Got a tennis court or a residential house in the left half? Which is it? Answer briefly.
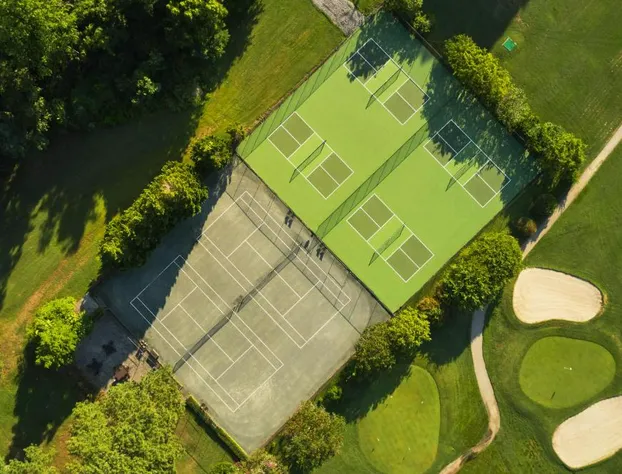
tennis court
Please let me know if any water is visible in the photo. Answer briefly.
No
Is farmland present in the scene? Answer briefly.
No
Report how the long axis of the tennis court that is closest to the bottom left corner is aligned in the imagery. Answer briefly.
at an angle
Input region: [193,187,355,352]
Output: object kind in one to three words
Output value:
tennis court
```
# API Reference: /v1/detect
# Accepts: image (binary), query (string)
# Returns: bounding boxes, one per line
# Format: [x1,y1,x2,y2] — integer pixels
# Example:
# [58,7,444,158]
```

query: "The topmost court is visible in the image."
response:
[344,37,430,125]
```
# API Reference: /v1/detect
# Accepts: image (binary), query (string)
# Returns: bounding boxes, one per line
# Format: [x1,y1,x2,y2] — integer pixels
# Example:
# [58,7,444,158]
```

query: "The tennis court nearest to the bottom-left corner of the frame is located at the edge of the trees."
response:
[126,252,288,416]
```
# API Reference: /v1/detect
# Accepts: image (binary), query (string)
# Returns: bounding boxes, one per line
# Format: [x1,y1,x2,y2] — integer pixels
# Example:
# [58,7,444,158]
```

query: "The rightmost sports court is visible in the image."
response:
[424,120,510,207]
